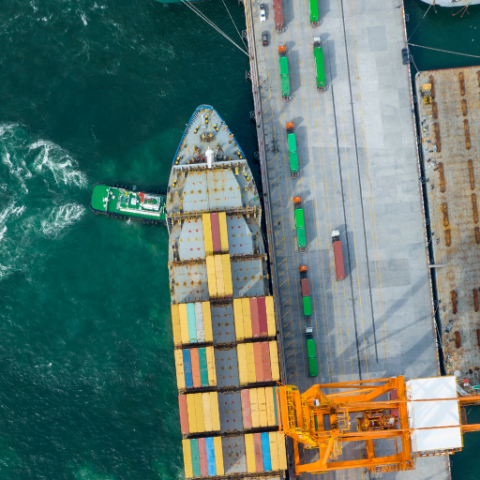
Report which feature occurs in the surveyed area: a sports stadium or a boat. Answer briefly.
boat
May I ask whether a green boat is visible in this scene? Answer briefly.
Yes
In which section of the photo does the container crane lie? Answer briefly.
bottom right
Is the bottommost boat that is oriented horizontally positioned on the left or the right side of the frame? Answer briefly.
left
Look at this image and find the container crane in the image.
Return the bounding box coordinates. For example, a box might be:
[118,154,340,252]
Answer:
[279,372,480,480]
